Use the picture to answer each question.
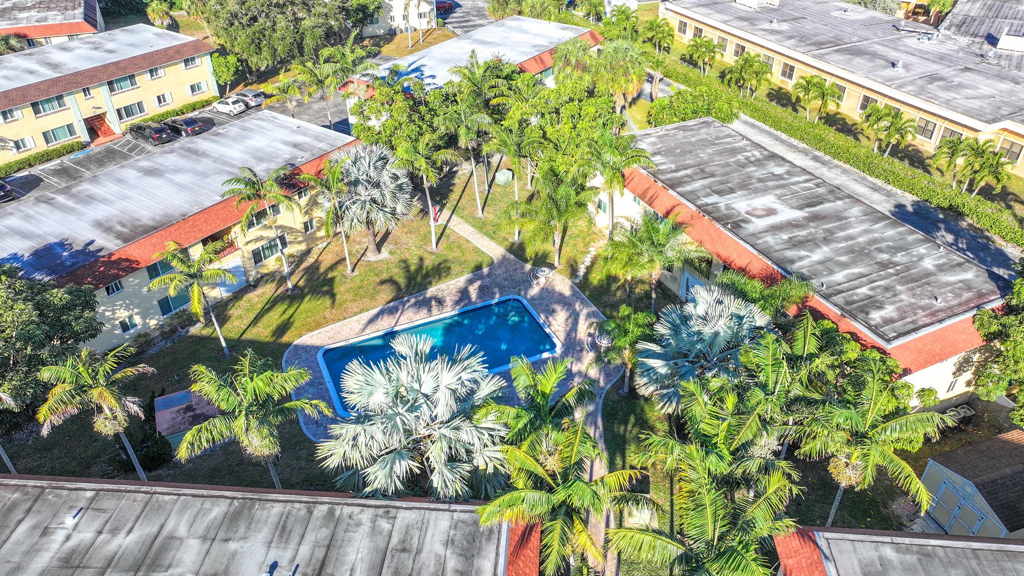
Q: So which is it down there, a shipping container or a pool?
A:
pool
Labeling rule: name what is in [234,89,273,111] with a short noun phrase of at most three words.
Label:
car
